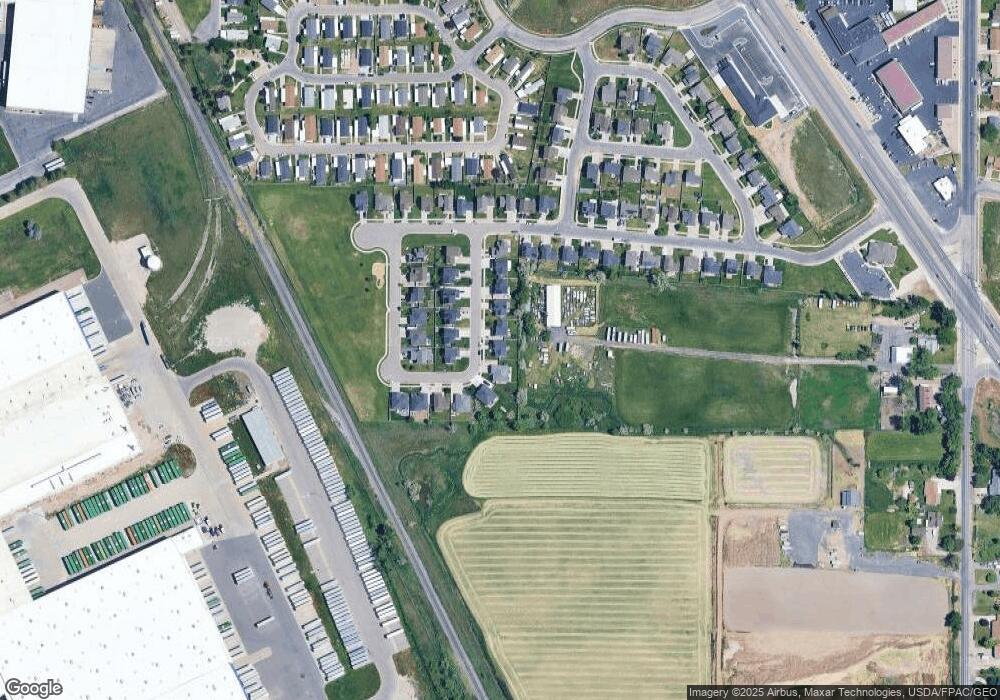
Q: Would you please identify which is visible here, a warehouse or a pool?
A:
warehouse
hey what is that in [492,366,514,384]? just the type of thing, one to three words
house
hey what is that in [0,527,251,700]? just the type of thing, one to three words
warehouse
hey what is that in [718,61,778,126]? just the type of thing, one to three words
building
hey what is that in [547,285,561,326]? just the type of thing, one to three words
shed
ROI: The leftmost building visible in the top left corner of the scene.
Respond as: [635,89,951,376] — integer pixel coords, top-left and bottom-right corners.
[3,0,94,112]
